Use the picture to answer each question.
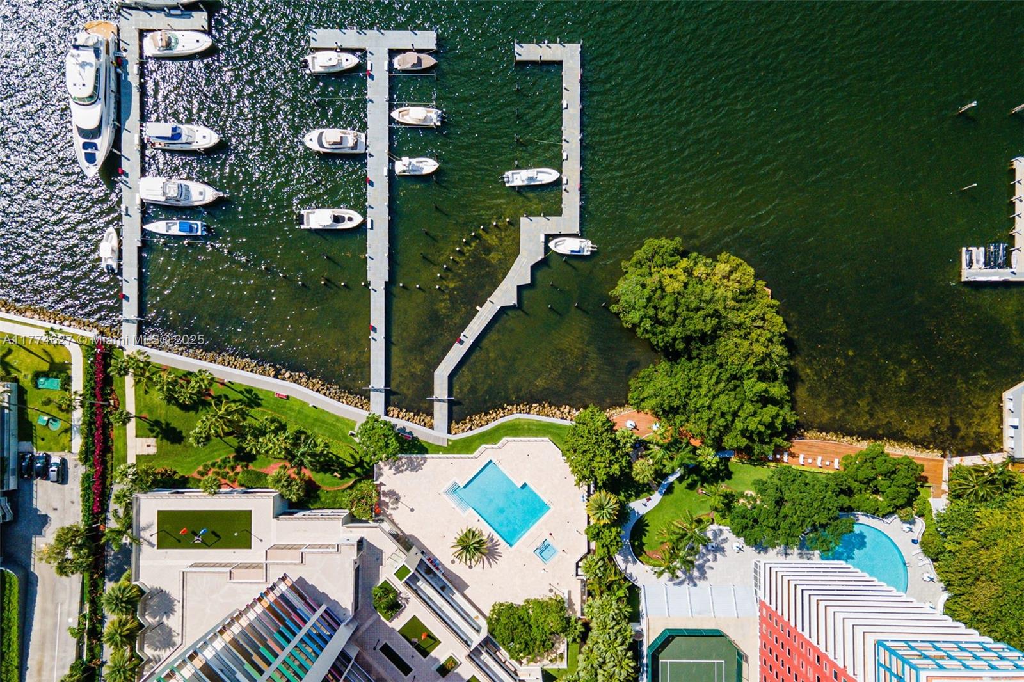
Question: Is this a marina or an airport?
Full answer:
The picture captures a marina.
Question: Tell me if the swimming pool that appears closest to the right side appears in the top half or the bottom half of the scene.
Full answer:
Seen from above, the swimming pool that appears closest to the right side lies in the bottom half of the view.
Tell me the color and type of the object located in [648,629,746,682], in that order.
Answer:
green tennis court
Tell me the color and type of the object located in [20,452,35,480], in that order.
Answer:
black car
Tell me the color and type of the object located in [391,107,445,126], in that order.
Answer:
white boat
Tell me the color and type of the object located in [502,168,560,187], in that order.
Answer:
white boat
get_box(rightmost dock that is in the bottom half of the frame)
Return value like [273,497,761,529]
[999,381,1024,457]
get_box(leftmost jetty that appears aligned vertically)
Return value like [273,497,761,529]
[119,9,210,346]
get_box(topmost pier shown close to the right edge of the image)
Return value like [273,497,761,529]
[959,156,1024,282]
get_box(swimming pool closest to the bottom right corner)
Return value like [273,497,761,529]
[818,521,912,597]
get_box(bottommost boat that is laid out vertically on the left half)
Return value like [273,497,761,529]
[100,227,121,272]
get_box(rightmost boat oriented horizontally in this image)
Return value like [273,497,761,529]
[549,237,596,255]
